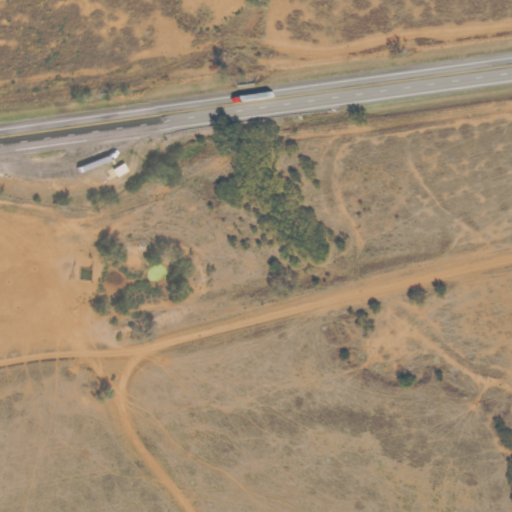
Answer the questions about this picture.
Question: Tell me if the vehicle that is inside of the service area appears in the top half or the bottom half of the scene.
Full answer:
You can find the vehicle that is inside of the service area in the top half.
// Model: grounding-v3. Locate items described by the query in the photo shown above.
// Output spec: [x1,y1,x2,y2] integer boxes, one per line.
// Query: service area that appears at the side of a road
[0,127,187,181]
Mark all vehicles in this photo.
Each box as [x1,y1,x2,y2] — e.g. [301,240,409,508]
[232,91,274,102]
[78,152,118,172]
